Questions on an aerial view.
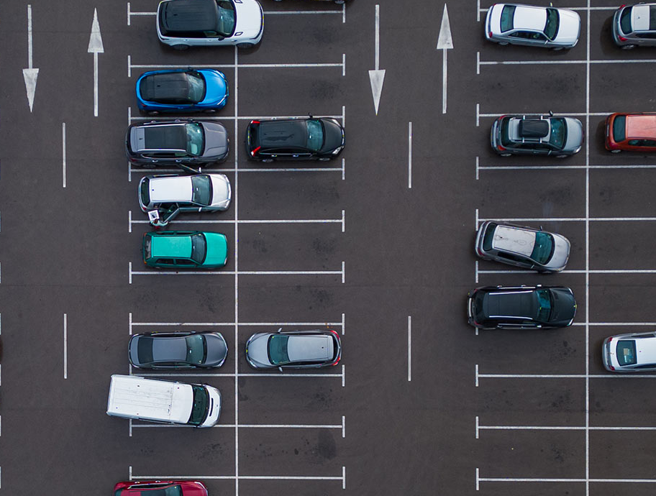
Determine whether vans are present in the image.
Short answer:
Yes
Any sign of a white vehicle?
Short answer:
Yes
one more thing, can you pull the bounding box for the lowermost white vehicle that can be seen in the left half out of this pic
[108,372,221,431]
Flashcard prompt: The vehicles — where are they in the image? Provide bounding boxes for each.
[600,112,656,154]
[108,372,221,431]
[135,66,230,117]
[482,0,581,51]
[245,115,347,165]
[156,0,265,52]
[598,331,656,375]
[244,326,342,373]
[126,117,230,168]
[465,282,580,333]
[114,476,208,496]
[139,161,232,221]
[488,110,585,159]
[609,2,656,52]
[128,326,227,374]
[143,226,229,271]
[472,219,572,271]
